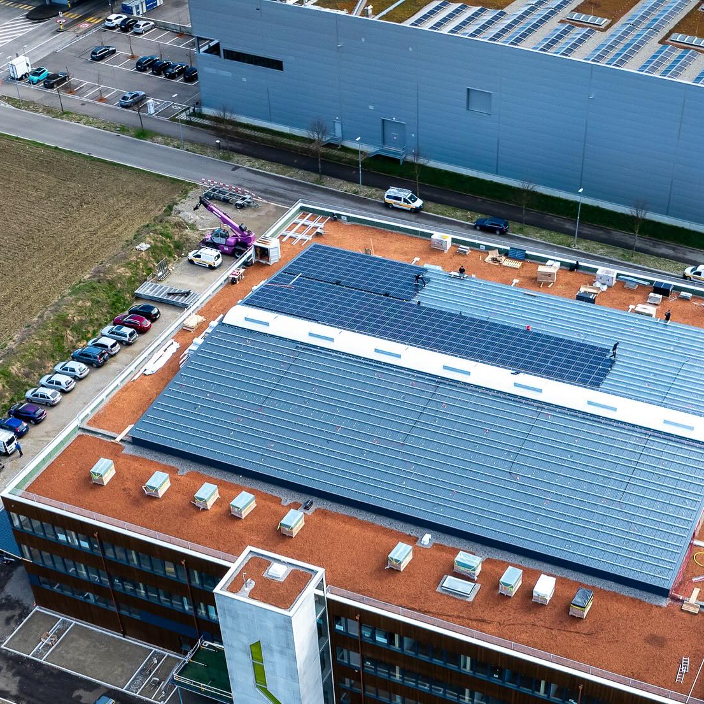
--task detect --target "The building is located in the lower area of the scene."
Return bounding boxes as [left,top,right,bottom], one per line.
[0,198,704,704]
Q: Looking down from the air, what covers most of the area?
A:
buildings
